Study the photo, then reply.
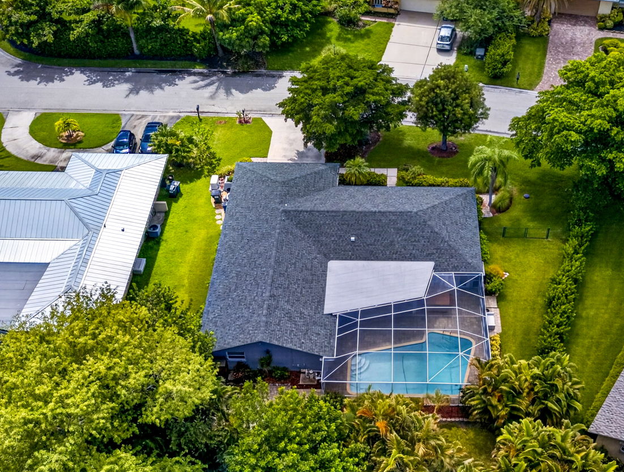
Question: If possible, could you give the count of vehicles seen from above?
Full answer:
Altogether the scene contains 3 vehicles.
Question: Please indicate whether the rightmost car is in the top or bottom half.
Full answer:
You can find the rightmost car in the top half.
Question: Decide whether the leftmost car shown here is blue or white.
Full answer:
The leftmost car is blue.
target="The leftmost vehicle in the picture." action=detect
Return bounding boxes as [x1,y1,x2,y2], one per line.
[108,128,137,154]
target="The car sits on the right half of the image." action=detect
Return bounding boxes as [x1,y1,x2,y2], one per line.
[434,26,458,50]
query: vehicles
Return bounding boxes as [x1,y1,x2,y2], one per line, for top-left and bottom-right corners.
[434,26,458,50]
[108,128,137,154]
[138,114,166,153]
